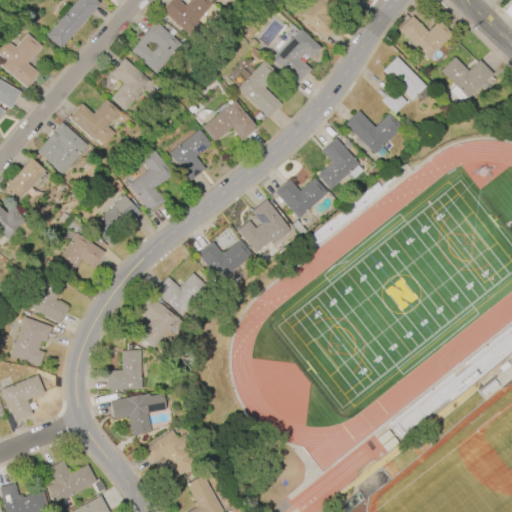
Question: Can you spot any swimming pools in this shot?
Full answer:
Yes, the photo shows a swimming pool.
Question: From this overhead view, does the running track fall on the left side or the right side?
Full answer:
The running track is on the right side of the image.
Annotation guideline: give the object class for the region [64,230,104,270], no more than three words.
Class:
house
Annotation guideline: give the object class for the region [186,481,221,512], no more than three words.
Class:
house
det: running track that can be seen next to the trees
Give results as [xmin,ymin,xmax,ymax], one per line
[226,135,512,472]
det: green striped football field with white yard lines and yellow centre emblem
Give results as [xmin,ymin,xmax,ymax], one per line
[266,168,512,419]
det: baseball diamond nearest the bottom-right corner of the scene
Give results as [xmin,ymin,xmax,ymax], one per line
[371,389,512,512]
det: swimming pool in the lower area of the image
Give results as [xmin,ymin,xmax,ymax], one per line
[150,412,170,424]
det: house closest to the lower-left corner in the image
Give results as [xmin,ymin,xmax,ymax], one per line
[2,484,46,512]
